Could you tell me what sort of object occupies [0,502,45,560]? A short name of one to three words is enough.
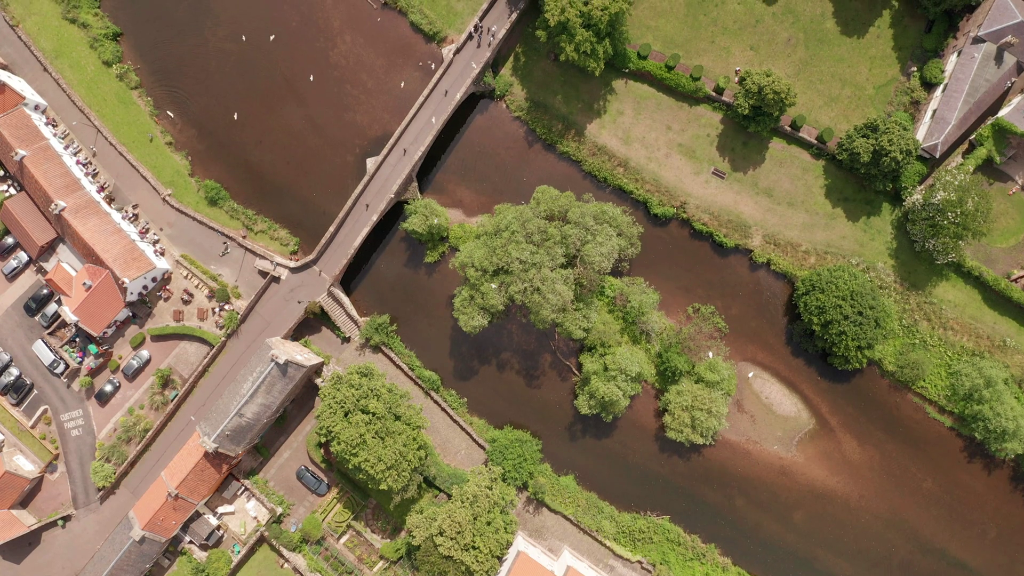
house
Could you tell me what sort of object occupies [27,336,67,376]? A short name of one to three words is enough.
van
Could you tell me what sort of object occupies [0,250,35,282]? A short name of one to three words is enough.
car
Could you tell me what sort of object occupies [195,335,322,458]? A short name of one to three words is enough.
house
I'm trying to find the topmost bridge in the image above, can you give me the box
[309,0,533,272]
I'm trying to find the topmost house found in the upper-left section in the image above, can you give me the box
[0,69,47,114]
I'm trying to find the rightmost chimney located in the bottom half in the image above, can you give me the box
[264,350,288,369]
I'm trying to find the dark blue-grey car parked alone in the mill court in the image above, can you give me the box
[294,465,332,496]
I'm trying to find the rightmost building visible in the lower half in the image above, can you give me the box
[556,548,605,576]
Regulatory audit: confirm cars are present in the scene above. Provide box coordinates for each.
[0,233,19,259]
[0,364,28,398]
[37,297,60,328]
[0,342,20,375]
[22,282,59,318]
[294,465,332,496]
[0,250,35,282]
[6,374,38,406]
[91,377,124,408]
[120,346,154,382]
